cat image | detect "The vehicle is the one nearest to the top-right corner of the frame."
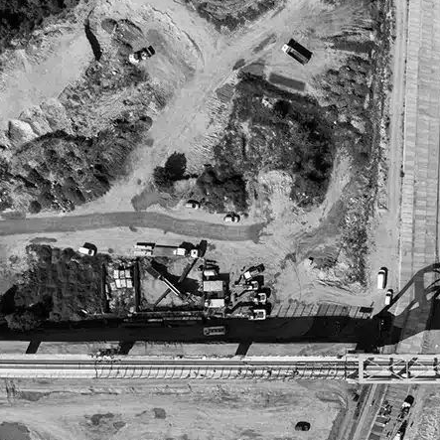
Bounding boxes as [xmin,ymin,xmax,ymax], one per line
[282,41,314,68]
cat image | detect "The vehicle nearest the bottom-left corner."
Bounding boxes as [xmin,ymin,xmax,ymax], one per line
[78,241,95,257]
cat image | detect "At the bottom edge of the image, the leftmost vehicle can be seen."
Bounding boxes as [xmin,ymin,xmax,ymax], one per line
[294,419,312,434]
